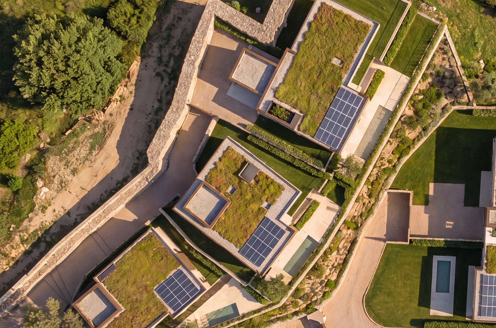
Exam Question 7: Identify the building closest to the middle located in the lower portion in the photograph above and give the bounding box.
[172,136,305,275]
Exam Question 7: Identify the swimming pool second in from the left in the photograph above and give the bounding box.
[280,232,322,278]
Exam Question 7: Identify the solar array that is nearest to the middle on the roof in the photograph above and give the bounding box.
[240,217,285,266]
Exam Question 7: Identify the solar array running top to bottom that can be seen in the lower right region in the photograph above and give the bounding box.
[481,274,496,317]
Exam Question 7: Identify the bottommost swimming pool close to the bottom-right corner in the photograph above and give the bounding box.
[434,259,452,294]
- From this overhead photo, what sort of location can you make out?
residential area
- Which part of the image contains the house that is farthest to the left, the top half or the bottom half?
bottom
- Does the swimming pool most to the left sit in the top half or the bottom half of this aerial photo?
bottom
